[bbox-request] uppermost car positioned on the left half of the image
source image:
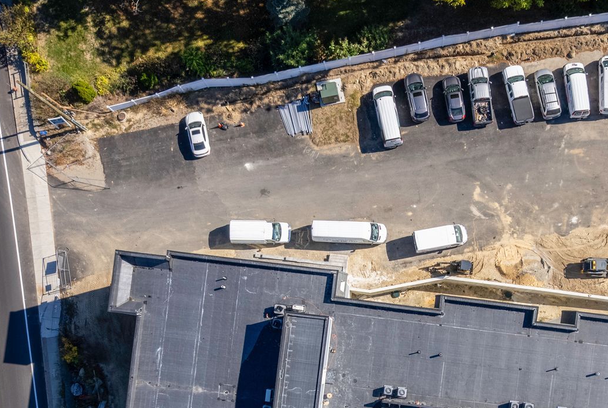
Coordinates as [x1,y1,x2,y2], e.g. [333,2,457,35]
[182,110,213,161]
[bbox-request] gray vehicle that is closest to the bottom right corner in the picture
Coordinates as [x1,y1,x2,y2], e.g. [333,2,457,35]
[579,258,608,277]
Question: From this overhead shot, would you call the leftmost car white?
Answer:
Yes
